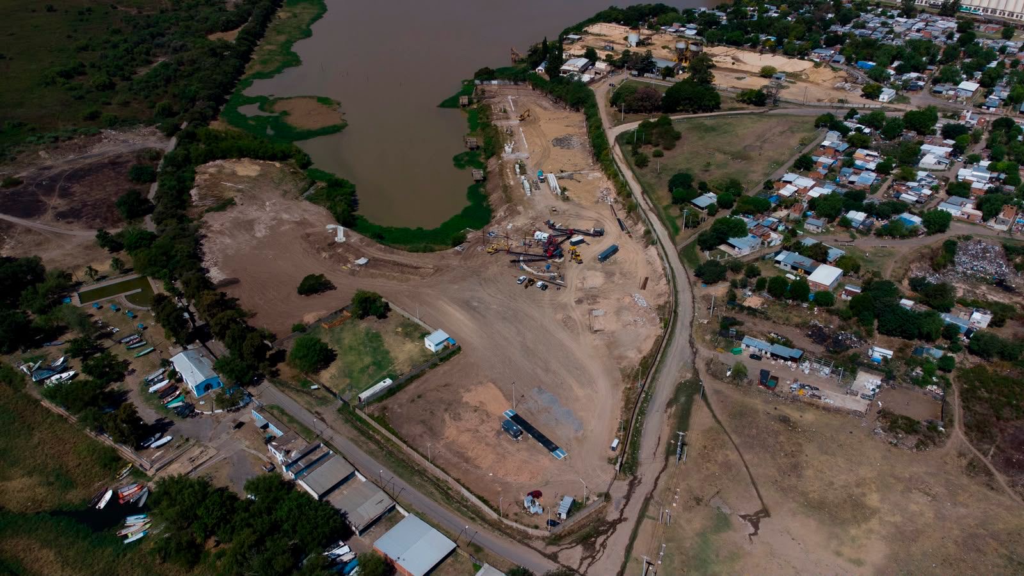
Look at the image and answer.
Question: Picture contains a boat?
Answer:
Yes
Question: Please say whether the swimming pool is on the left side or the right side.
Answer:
left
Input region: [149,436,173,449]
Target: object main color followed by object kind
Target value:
white boat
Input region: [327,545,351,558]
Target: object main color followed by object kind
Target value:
white boat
